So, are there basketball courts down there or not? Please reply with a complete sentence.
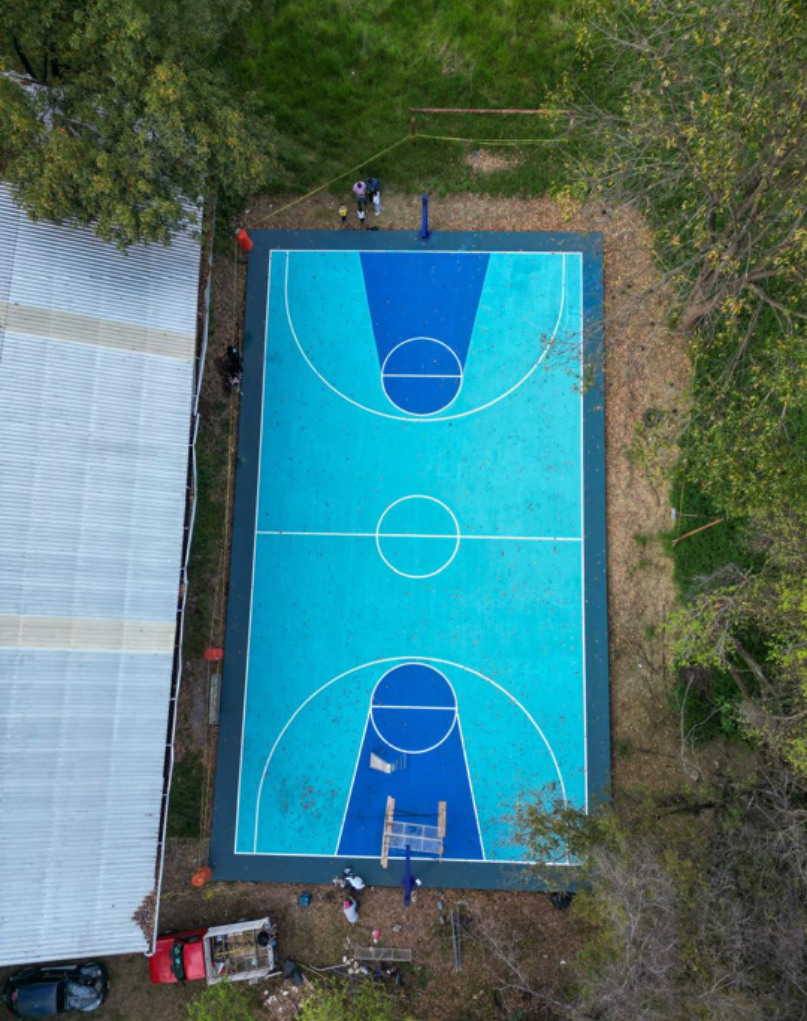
Yes, there is a basketball court in the image.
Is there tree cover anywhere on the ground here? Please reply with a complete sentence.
Yes, there's tree cover in this view.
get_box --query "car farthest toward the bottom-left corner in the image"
[2,962,111,1021]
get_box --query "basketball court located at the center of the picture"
[210,229,613,892]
